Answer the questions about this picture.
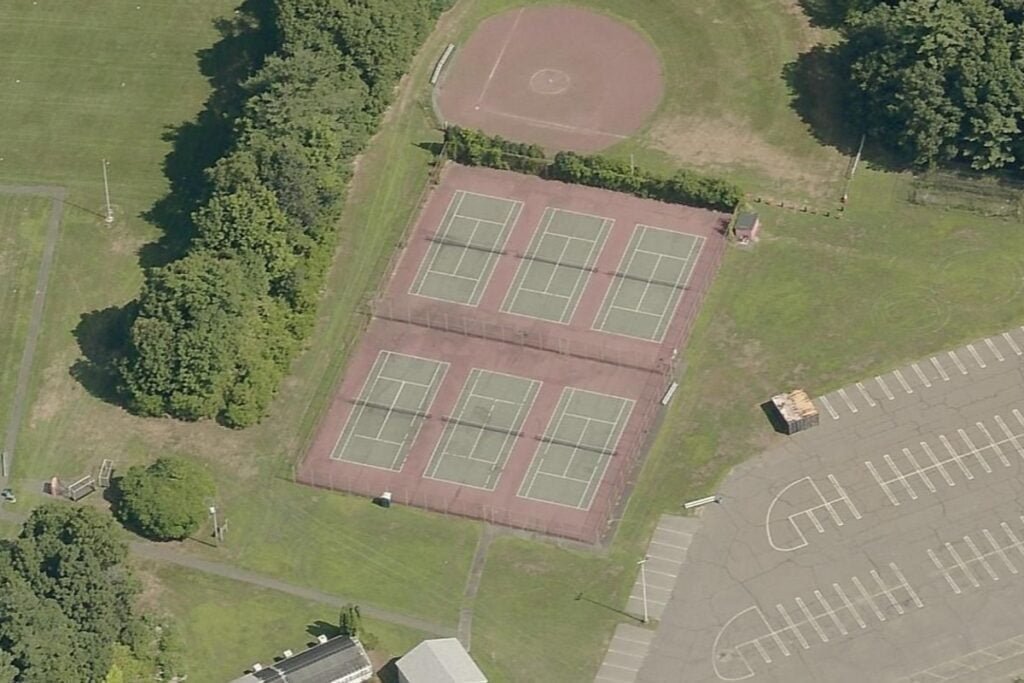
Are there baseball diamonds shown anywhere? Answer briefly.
Yes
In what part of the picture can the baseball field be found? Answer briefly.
top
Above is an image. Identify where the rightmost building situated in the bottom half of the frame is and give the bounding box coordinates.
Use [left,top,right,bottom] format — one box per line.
[395,637,489,683]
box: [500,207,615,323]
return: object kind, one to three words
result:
tennis court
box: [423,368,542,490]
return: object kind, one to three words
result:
tennis court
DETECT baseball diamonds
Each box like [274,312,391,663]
[431,4,665,157]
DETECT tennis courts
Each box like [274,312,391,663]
[423,368,542,490]
[517,387,635,509]
[330,350,450,471]
[592,224,706,341]
[408,190,523,306]
[500,207,615,323]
